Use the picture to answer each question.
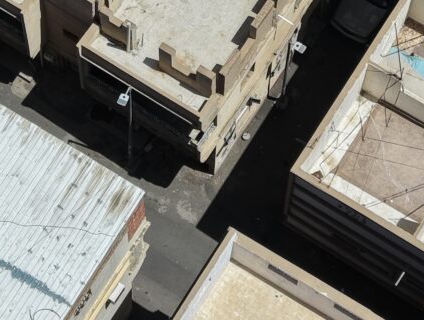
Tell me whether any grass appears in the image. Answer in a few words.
No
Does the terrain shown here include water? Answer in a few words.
No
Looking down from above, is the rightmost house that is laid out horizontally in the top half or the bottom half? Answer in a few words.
bottom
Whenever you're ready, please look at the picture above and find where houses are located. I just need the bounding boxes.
[0,0,321,161]
[0,108,147,320]
[281,0,424,320]
[170,231,375,320]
